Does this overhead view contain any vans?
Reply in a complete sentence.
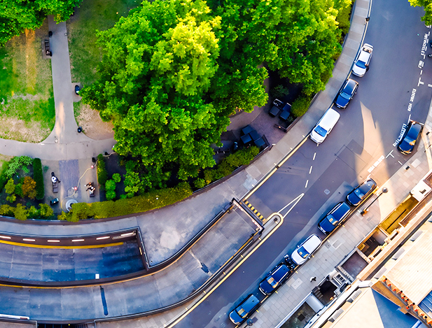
Yes, a van is visible in the scene.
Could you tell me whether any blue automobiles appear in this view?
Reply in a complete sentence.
Yes, a blue automobile is visible in the scene.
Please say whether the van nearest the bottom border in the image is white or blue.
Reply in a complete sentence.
The van nearest the bottom border is blue.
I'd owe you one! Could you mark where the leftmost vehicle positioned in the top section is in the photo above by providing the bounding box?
[311,106,341,143]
